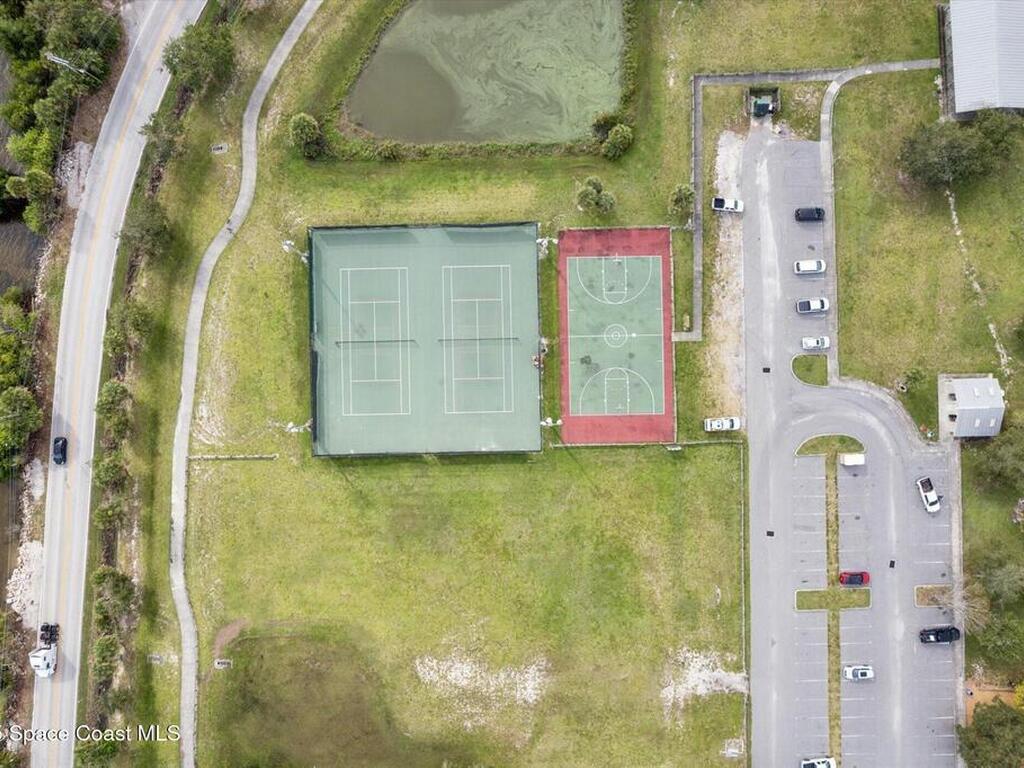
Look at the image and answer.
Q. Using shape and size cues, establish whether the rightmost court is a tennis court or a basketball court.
basketball court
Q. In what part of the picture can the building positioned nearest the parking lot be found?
right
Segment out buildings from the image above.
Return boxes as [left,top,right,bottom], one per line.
[947,378,1004,436]
[938,0,1024,118]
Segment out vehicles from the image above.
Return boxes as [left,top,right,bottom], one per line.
[839,572,869,586]
[30,624,61,677]
[800,757,835,768]
[704,417,740,432]
[793,259,825,274]
[843,665,873,680]
[794,206,824,221]
[52,436,69,464]
[801,336,830,350]
[711,197,744,212]
[919,627,957,644]
[795,297,829,312]
[916,477,944,513]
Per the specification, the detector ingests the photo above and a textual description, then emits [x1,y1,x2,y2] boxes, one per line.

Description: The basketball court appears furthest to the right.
[558,228,675,445]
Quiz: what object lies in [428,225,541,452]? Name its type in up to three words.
tennis court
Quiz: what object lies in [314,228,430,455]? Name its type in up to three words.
tennis court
